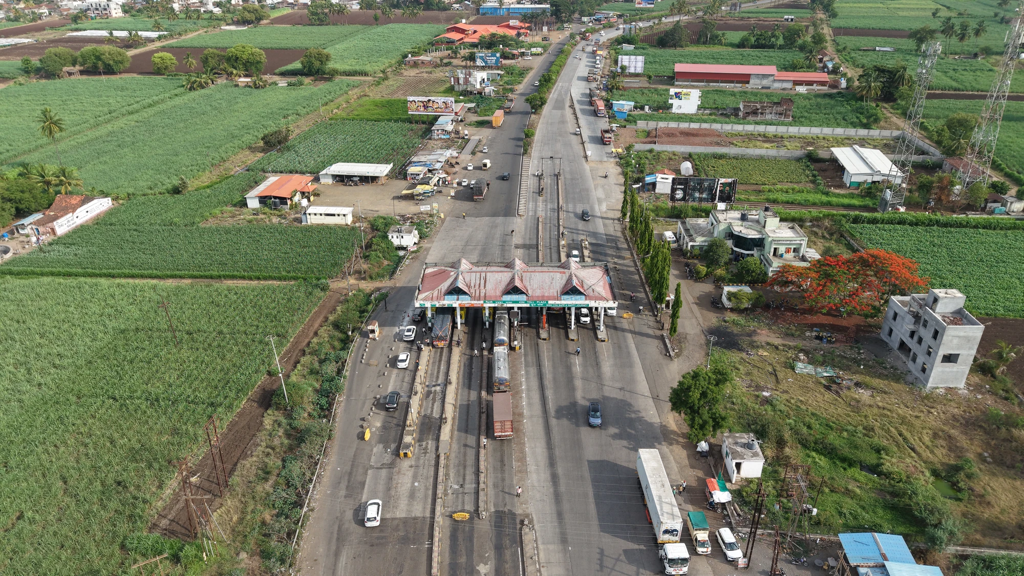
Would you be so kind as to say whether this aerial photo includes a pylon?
Yes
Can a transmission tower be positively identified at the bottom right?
Yes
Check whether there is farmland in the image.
Yes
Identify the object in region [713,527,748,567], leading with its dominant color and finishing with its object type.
white car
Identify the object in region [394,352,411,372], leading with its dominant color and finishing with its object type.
white car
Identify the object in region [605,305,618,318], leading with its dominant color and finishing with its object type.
white vehicle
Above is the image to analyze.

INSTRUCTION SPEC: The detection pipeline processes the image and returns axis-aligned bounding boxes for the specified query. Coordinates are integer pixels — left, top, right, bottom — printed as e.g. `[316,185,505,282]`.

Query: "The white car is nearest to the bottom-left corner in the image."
[362,500,383,530]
